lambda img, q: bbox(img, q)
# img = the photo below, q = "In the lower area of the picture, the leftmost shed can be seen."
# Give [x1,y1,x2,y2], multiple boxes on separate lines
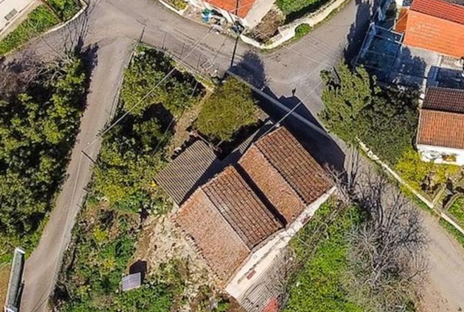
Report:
[122,272,148,293]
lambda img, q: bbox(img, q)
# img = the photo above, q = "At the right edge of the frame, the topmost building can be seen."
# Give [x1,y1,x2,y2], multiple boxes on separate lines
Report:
[405,0,464,63]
